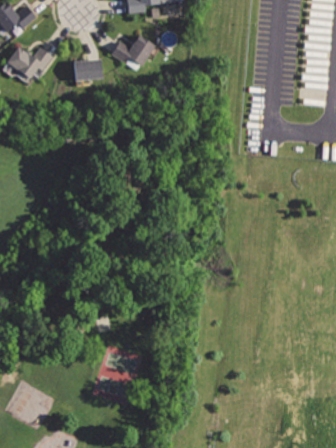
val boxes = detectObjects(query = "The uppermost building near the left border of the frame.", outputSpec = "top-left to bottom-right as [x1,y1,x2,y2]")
[0,0,38,35]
